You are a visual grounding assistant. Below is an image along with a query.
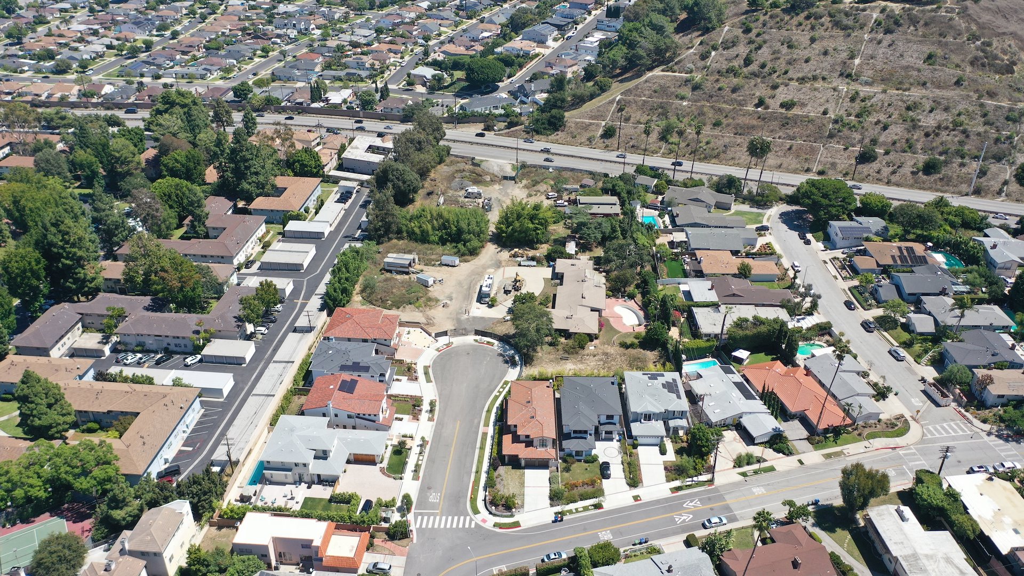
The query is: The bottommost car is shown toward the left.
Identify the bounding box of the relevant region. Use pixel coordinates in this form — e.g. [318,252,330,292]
[366,559,393,574]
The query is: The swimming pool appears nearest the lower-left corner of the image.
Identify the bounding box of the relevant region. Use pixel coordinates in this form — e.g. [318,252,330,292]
[247,463,264,486]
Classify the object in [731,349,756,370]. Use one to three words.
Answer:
gazebo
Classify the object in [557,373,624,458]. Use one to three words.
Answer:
house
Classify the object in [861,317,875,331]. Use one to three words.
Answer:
car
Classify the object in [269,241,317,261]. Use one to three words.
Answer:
building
